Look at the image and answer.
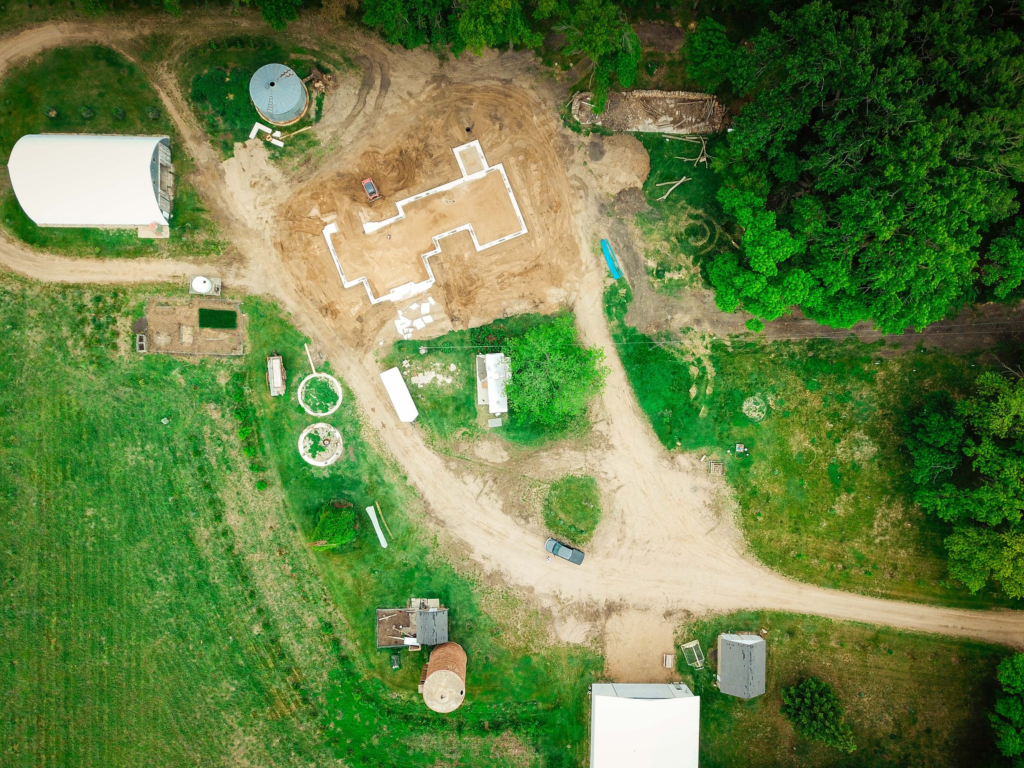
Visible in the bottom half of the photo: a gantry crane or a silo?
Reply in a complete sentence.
What appears in the bottom half of the photo is a silo.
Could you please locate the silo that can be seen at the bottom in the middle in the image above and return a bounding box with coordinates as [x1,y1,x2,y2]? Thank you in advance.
[416,641,467,714]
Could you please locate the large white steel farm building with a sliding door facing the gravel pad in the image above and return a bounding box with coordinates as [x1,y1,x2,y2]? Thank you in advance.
[591,686,700,768]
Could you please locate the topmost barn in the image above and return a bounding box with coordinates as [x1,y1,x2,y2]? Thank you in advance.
[8,128,175,228]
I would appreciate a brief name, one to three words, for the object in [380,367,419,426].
trailer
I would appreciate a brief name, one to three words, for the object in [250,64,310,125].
silo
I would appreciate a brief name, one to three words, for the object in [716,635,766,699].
shed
